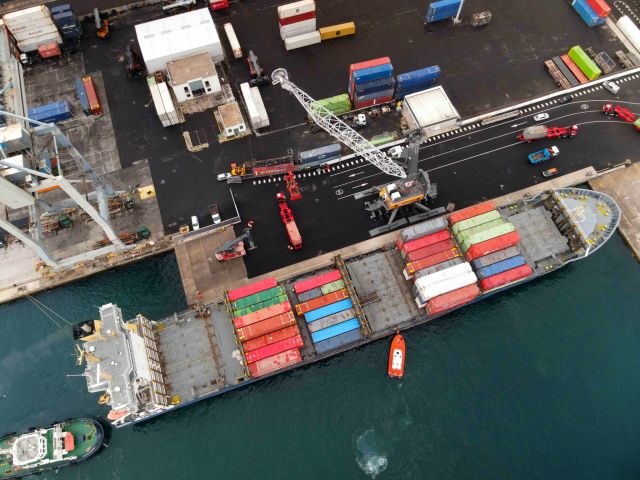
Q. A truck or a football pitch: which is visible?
truck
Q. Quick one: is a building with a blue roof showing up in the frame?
No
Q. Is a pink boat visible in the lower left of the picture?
No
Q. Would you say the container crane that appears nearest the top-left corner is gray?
Yes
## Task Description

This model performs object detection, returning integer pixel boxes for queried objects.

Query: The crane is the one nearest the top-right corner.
[268,63,446,238]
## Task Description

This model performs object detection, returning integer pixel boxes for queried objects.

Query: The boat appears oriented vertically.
[390,333,406,381]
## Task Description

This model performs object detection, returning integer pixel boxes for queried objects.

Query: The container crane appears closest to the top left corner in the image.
[0,106,137,274]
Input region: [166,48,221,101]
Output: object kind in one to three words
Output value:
building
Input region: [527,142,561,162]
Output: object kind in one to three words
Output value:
vehicle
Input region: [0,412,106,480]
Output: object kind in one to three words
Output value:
boat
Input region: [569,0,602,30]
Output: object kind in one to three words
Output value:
shipping container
